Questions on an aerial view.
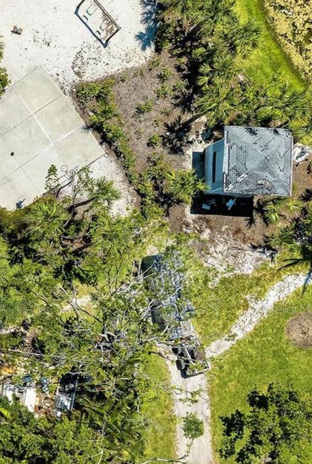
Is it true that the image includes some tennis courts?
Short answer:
No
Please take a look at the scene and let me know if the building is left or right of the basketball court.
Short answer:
to the right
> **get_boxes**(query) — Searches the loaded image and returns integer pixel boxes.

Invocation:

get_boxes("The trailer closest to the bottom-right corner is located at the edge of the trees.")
[166,332,208,378]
